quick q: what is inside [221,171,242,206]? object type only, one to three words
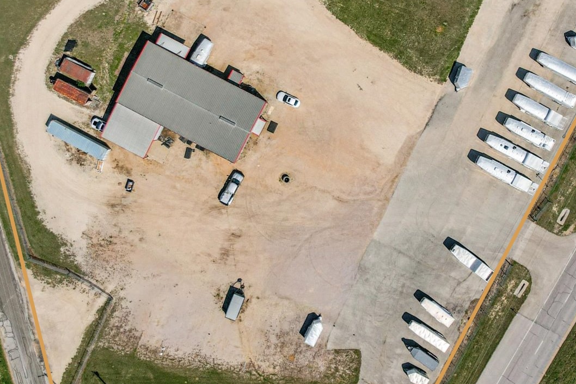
vehicle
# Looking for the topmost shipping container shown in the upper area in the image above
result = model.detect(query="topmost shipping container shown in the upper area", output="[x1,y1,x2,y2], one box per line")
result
[59,59,98,85]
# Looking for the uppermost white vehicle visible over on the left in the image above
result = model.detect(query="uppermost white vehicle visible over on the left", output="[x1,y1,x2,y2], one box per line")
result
[193,36,215,67]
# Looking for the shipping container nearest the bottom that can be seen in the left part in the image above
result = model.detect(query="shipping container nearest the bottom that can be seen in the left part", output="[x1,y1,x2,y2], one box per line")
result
[53,79,94,108]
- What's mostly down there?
paved ground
